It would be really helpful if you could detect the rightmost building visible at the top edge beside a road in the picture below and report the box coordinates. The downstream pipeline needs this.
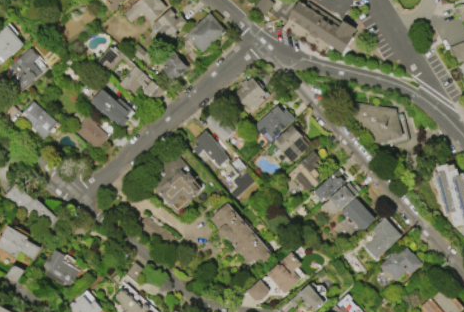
[286,0,362,53]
